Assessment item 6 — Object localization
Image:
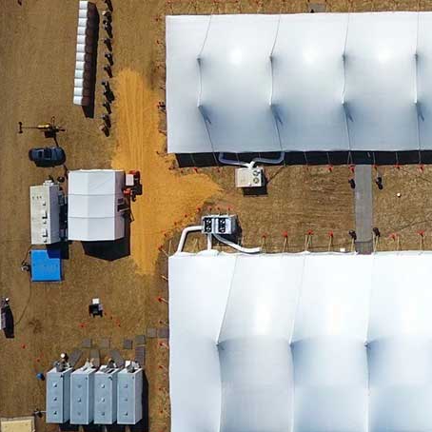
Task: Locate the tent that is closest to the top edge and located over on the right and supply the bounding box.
[157,1,432,172]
